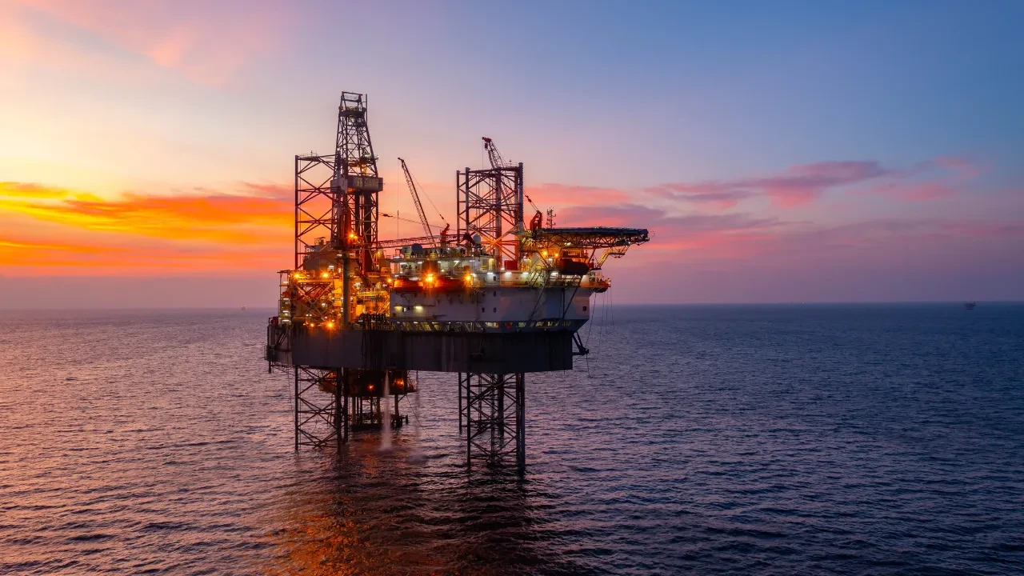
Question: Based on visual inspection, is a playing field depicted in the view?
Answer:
No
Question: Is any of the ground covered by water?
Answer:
Yes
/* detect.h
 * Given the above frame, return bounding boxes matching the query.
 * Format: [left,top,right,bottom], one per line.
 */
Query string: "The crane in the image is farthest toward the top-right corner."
[481,142,551,247]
